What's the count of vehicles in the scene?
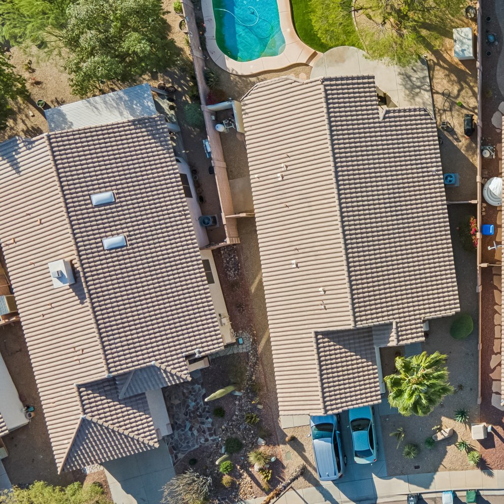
2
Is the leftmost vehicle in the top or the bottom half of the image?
bottom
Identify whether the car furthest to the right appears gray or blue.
blue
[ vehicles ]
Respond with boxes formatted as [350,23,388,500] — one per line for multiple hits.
[350,405,379,465]
[315,413,349,479]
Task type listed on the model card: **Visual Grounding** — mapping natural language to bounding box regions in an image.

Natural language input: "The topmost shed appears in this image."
[453,27,476,63]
